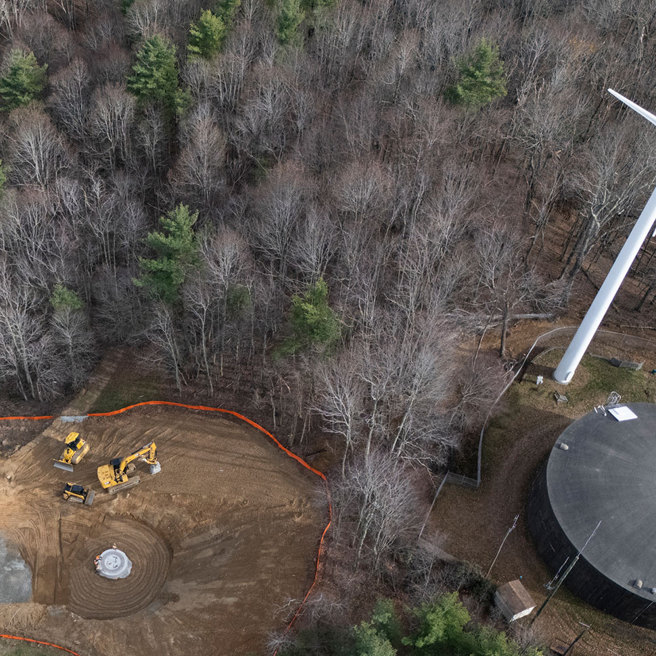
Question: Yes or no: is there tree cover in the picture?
Yes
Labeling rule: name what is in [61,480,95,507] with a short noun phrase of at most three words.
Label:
work vehicle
